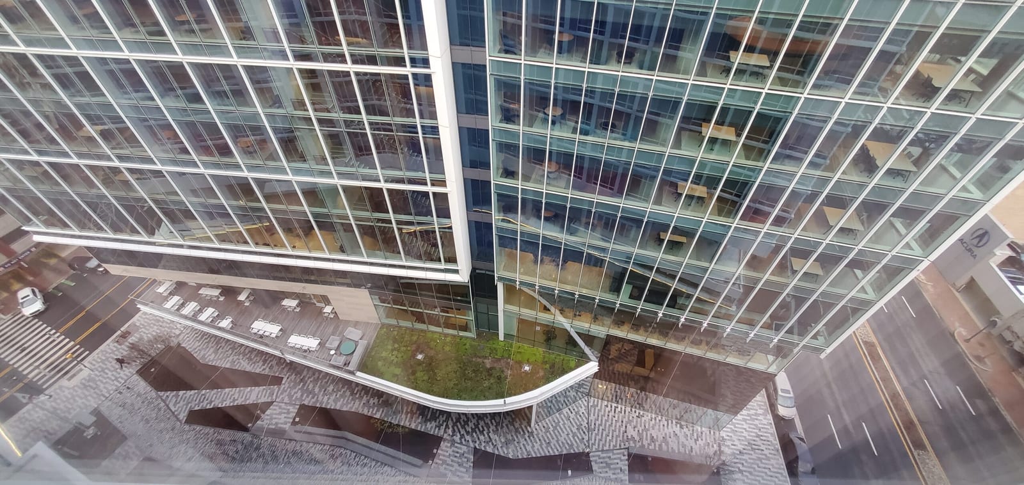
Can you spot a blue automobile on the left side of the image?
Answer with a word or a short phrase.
No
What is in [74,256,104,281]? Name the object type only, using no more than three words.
car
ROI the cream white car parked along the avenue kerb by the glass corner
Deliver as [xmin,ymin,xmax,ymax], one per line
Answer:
[767,373,798,420]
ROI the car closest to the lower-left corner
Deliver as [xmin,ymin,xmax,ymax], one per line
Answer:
[16,287,45,319]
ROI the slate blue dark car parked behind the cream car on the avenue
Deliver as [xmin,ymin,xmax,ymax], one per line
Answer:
[785,439,822,485]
